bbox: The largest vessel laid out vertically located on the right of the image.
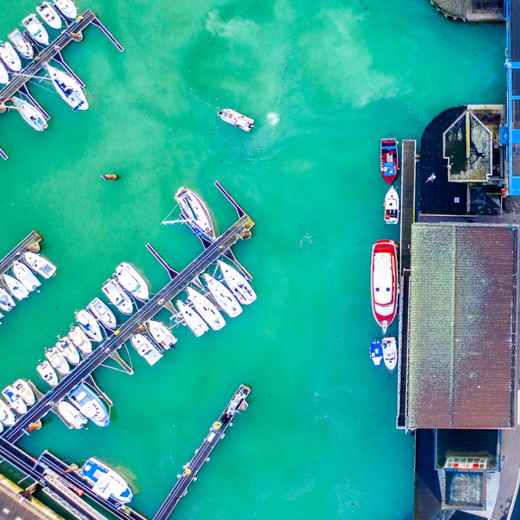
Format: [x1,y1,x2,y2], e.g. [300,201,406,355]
[370,238,402,338]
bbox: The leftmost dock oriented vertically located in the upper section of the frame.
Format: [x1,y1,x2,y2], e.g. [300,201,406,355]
[402,140,417,271]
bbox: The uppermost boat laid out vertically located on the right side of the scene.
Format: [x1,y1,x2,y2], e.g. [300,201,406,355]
[381,138,399,184]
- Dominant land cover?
water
